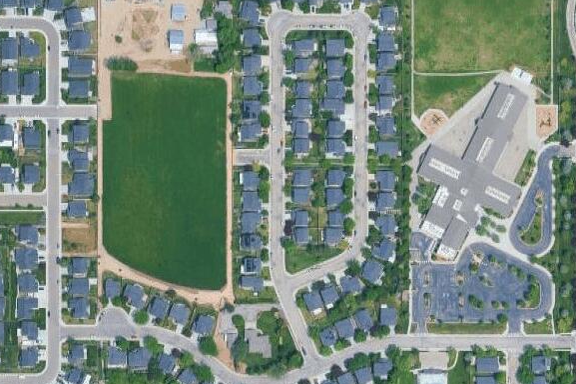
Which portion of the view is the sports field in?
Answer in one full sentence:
You can find the sports field in the top right area of the picture.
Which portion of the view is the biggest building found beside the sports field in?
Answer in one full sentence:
The biggest building found beside the sports field is located in the right region of the scene.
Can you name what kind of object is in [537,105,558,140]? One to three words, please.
playground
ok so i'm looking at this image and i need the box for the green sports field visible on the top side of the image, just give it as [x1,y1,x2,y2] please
[412,0,554,118]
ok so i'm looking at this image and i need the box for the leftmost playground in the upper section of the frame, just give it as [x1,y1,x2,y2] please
[421,107,450,136]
